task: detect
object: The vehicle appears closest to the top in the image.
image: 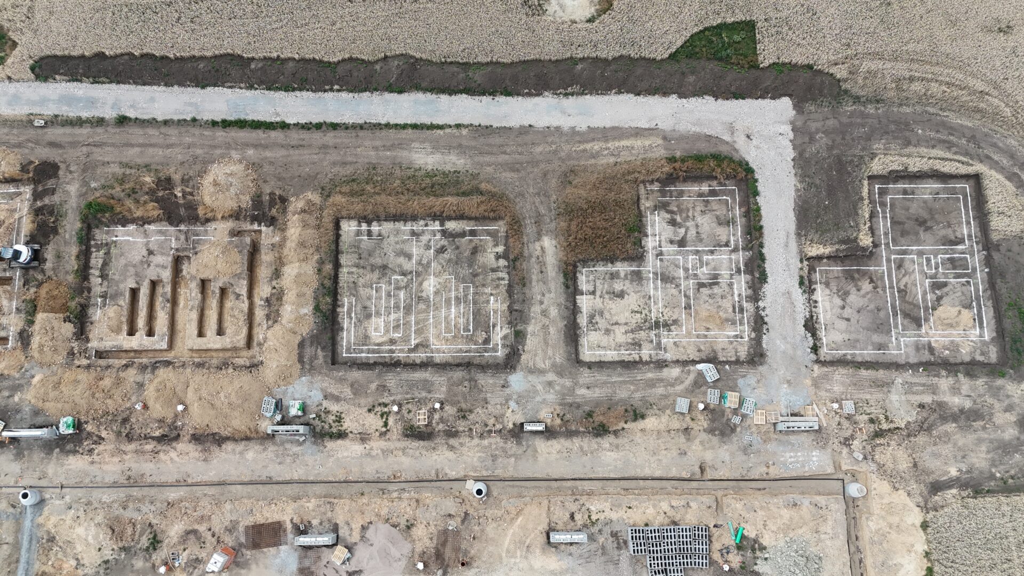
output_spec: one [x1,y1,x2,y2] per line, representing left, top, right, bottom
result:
[0,240,44,266]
